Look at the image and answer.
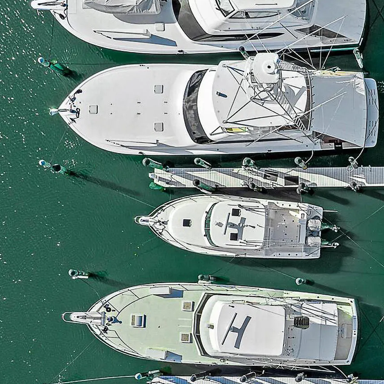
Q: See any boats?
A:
Yes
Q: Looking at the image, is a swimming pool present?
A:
No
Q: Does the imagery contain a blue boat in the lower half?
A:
No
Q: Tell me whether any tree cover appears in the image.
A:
No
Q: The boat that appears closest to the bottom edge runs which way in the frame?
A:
horizontally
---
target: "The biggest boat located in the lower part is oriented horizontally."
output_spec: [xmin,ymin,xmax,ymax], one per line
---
[62,281,358,372]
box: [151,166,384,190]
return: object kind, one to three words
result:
pier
